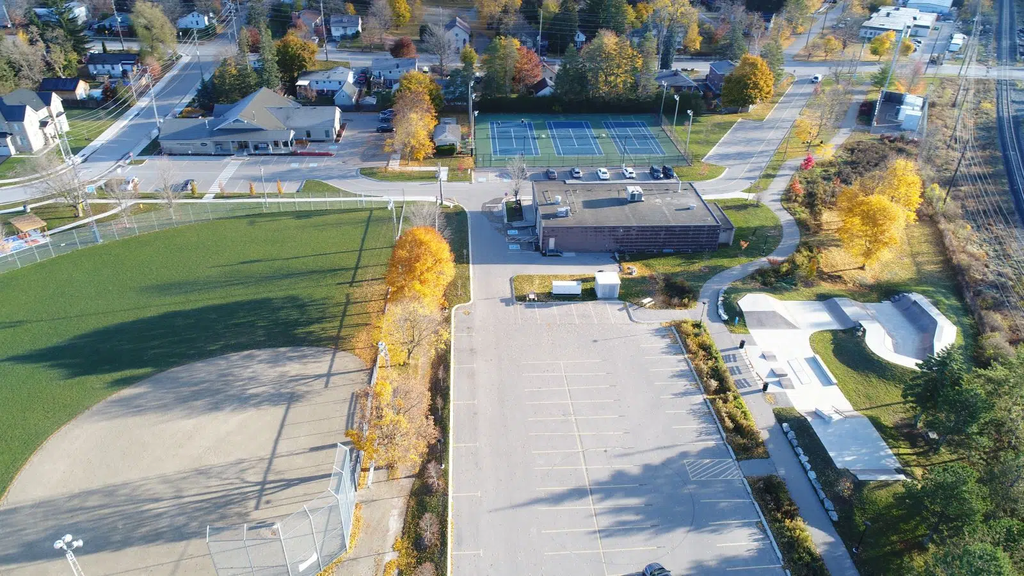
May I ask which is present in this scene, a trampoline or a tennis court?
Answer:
tennis court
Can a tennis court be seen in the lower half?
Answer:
No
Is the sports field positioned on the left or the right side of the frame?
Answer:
left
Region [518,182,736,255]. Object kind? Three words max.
building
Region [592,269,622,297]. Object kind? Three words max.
shed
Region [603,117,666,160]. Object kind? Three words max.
tennis court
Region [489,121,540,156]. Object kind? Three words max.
tennis court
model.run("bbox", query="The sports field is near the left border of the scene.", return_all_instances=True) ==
[0,204,401,576]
